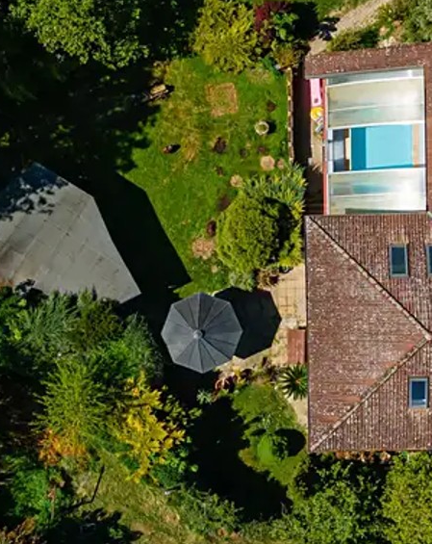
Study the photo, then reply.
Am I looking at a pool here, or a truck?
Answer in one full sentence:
Visible in the photo is a pool.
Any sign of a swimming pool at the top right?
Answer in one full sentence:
Yes, a swimming pool can be seen at the top right.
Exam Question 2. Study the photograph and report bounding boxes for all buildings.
[302,36,432,455]
[0,163,141,302]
